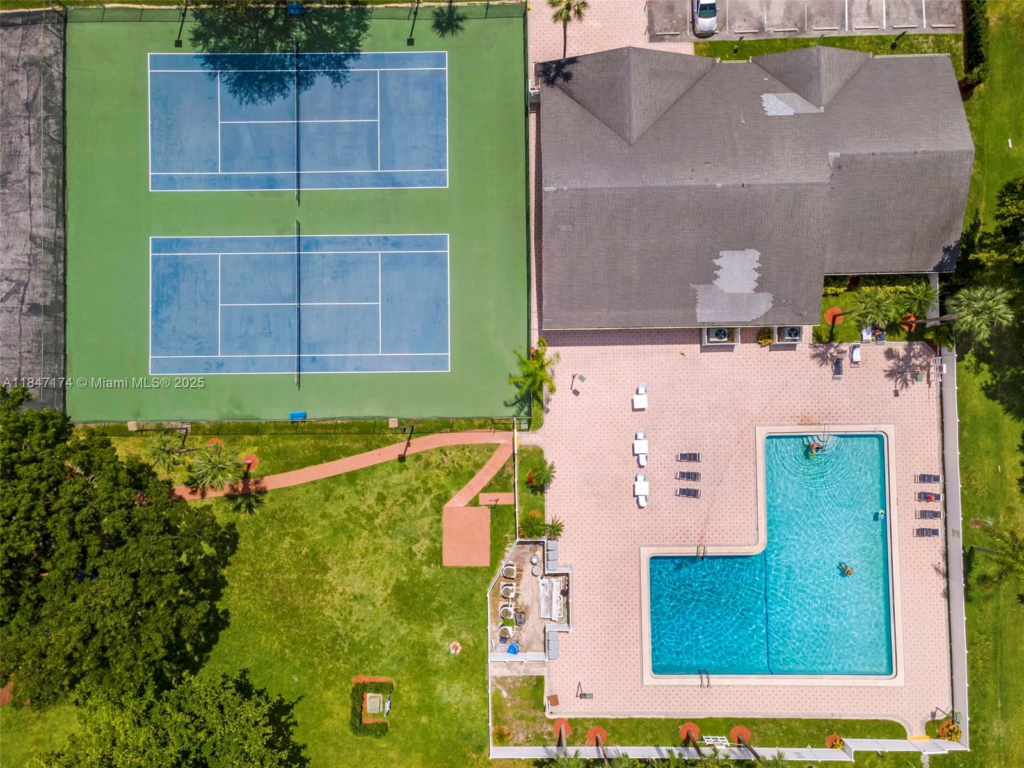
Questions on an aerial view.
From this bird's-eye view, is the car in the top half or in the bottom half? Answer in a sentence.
Seen from above, the car lies in the top half of the view.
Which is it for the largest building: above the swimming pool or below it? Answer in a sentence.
In the image, the largest building appears above the swimming pool.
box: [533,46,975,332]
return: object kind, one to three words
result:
building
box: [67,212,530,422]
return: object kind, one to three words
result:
tennis court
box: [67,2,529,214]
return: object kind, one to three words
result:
tennis court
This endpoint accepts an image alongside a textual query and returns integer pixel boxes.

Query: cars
[693,0,722,38]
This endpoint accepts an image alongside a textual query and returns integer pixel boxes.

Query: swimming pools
[640,425,904,686]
